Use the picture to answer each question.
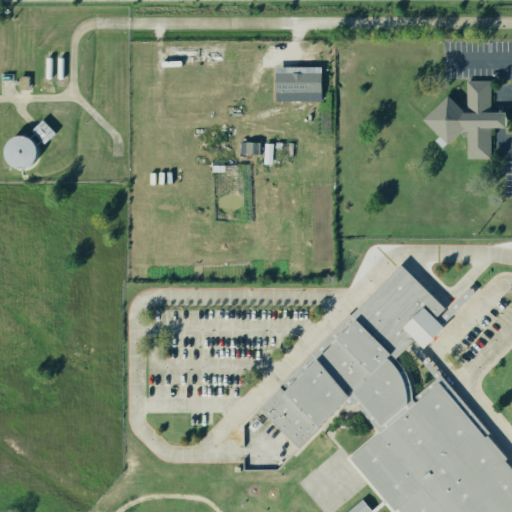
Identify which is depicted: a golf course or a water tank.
water tank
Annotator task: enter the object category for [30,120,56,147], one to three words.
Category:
building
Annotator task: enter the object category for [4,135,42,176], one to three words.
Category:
water tank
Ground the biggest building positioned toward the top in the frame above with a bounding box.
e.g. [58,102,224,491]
[424,81,506,159]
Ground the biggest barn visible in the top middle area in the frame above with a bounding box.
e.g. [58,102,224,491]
[276,68,322,102]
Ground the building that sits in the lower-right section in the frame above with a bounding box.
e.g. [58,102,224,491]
[258,265,512,512]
